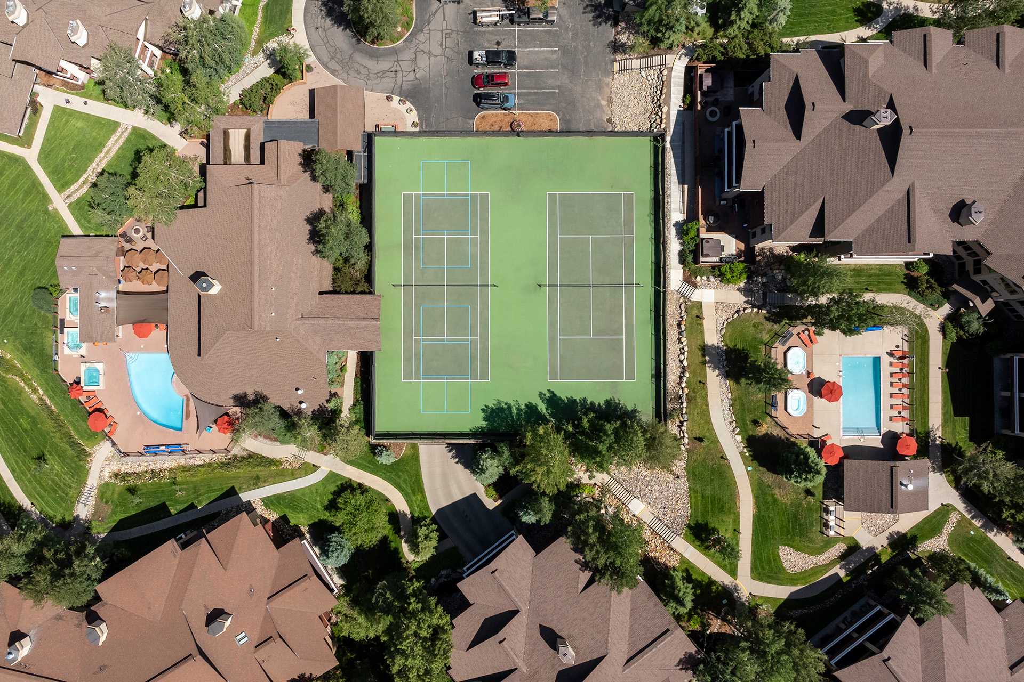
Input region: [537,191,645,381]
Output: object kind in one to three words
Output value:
tennis court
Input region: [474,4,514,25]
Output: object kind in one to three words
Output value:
trailer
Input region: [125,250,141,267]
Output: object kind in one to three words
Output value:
umbrella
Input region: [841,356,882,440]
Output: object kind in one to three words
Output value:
swimming pool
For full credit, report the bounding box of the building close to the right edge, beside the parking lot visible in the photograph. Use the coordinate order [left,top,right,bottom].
[723,25,1024,316]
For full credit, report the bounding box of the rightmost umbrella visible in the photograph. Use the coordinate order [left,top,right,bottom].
[895,434,917,455]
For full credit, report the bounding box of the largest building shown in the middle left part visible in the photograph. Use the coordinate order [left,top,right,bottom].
[155,139,383,410]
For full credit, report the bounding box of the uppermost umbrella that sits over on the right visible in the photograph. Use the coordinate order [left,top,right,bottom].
[821,381,841,402]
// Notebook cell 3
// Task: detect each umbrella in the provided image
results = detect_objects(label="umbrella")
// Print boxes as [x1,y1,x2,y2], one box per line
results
[155,251,169,267]
[821,443,843,465]
[821,381,841,402]
[133,324,154,339]
[140,249,156,265]
[125,250,141,267]
[88,411,108,431]
[154,269,169,286]
[121,267,140,283]
[139,269,155,285]
[895,434,917,455]
[69,383,87,397]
